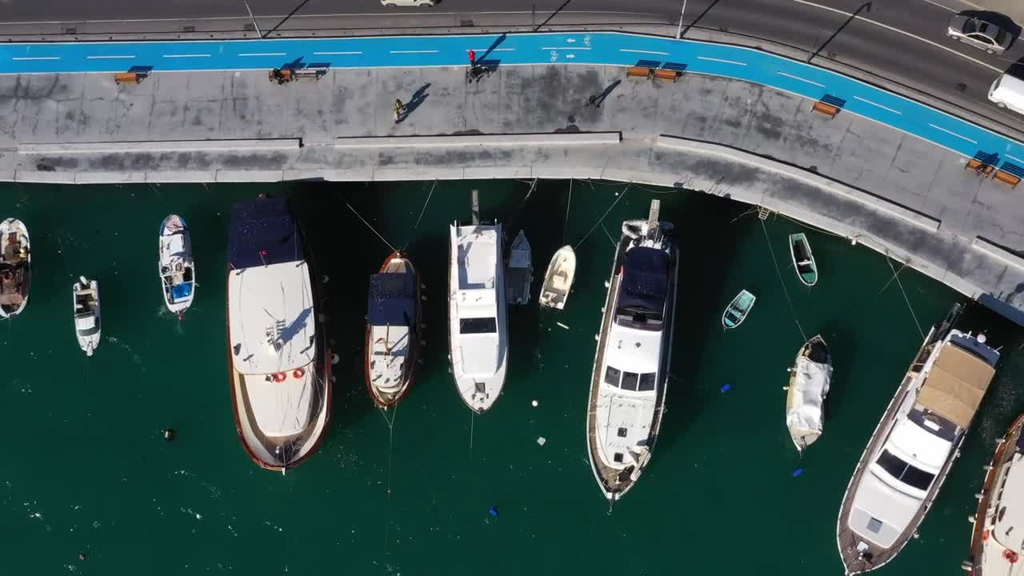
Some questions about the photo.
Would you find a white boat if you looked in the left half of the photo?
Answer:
Yes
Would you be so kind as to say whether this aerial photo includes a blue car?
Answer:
No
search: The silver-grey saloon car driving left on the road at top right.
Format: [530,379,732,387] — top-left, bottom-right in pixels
[948,14,1013,51]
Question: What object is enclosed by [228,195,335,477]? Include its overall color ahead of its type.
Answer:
white boat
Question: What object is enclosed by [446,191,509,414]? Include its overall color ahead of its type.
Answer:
white boat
